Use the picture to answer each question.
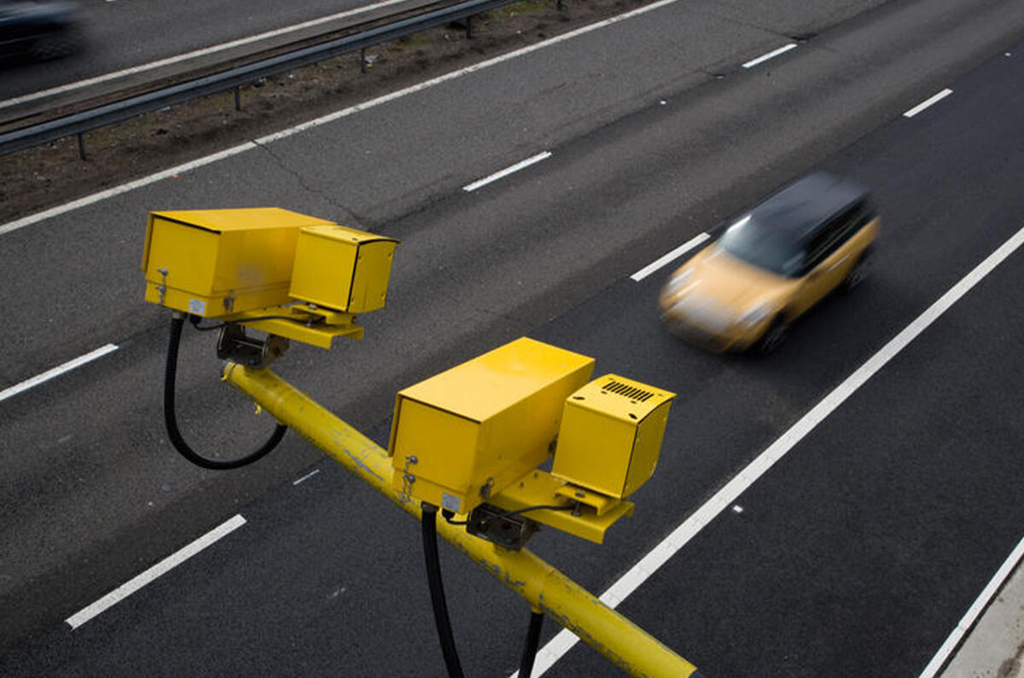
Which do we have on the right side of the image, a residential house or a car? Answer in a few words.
car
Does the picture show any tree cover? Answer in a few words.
No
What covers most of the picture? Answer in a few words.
paved ground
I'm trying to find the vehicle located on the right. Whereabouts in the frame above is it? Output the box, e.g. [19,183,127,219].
[656,167,884,357]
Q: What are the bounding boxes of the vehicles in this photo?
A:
[656,167,884,357]
[0,0,84,62]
